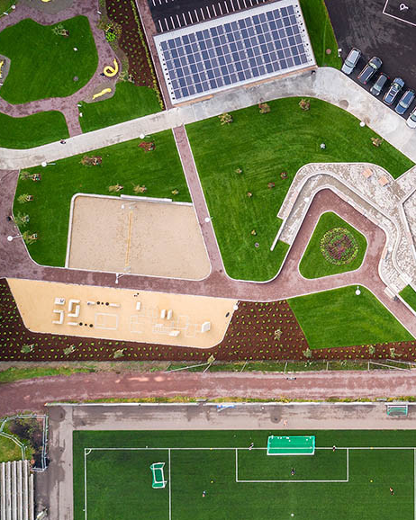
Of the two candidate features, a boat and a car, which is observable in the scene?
car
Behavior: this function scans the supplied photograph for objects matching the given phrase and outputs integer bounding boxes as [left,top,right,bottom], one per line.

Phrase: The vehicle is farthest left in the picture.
[342,47,361,75]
